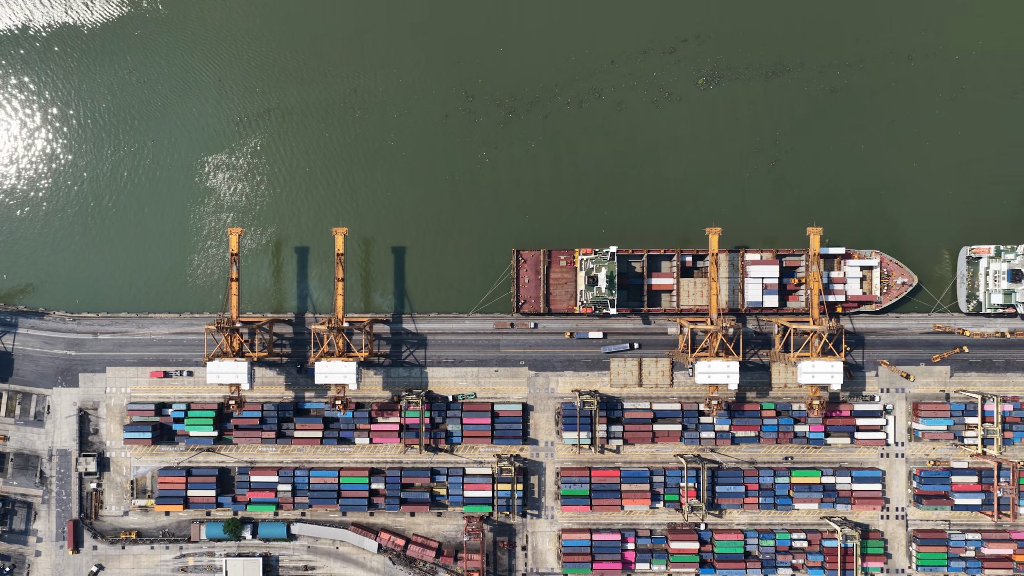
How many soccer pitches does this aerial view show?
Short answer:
none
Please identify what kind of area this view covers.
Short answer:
port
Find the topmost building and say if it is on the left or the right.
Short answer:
left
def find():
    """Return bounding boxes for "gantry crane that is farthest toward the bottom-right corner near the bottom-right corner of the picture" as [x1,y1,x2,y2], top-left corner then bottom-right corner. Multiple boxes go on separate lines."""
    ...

[963,450,1016,522]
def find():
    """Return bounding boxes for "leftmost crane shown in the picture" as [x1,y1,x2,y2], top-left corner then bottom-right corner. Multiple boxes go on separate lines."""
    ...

[203,222,293,416]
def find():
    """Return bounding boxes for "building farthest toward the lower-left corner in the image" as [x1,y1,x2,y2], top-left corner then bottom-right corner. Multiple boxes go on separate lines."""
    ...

[77,450,103,477]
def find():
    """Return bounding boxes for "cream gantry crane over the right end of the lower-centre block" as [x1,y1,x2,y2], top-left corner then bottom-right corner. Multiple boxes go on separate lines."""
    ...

[815,513,860,576]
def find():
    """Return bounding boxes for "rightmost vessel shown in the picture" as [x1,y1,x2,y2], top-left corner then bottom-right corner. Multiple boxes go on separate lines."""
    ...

[956,244,1024,314]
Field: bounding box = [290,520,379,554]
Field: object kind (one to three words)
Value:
shed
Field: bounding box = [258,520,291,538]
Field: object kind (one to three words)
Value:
shed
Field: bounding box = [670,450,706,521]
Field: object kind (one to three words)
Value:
container crane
